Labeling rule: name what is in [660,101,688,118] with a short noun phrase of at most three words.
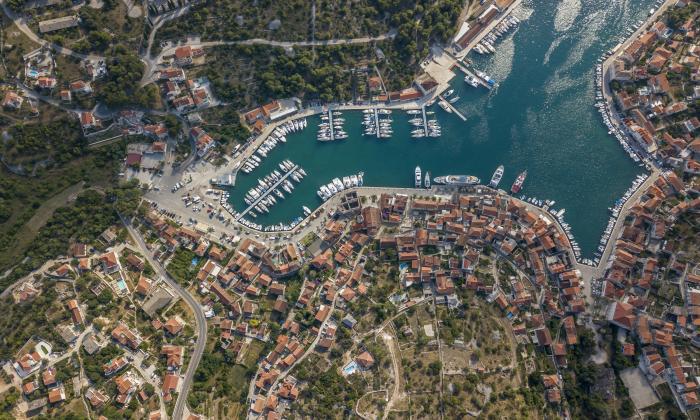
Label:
house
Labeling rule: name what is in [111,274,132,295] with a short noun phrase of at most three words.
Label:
swimming pool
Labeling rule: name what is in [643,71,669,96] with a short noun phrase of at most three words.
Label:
house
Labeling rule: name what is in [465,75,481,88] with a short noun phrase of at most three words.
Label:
boat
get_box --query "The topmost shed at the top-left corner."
[39,15,81,34]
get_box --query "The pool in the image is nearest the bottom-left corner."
[34,341,53,359]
